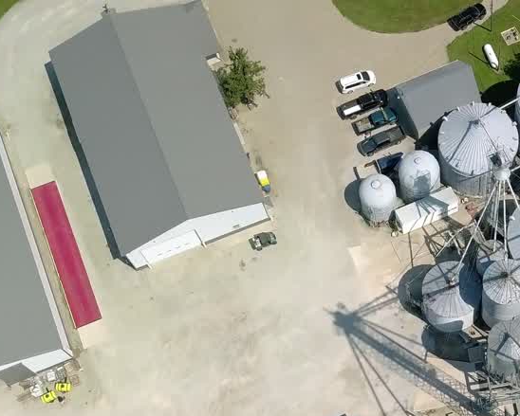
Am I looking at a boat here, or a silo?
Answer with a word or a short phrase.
silo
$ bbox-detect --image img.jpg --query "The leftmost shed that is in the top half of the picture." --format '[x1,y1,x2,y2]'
[51,1,269,269]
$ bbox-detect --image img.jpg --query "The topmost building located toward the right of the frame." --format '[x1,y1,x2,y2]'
[393,59,483,146]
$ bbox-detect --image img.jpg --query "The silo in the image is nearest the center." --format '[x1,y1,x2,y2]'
[360,175,398,225]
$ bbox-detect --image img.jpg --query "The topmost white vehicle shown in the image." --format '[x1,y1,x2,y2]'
[334,66,380,95]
